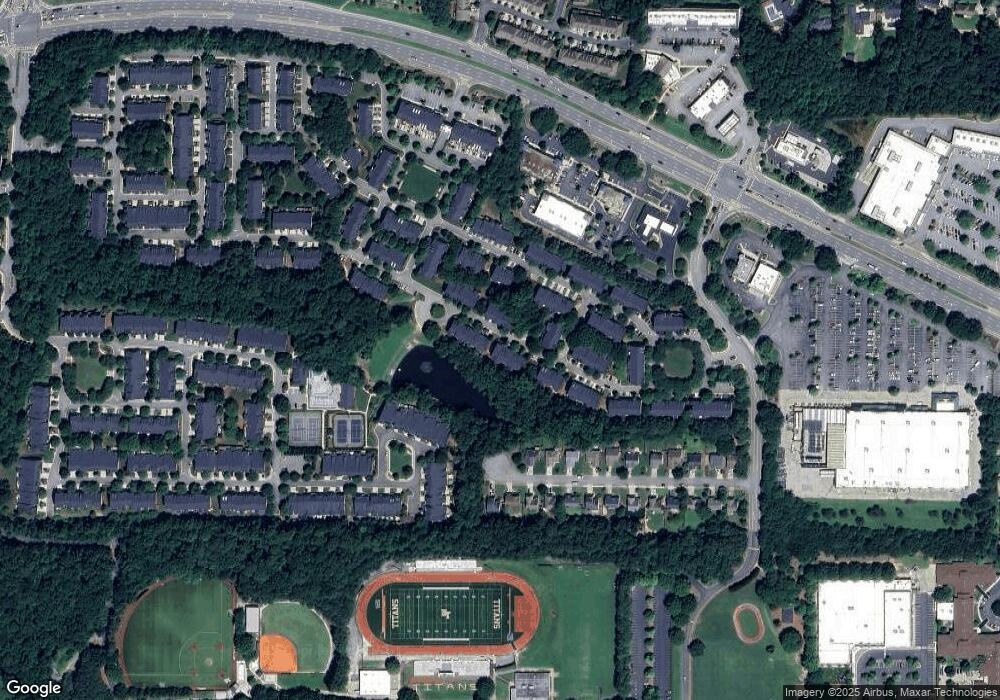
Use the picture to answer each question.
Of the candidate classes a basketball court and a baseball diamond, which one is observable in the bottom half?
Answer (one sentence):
Looking in the bottom half, you will find a baseball diamond.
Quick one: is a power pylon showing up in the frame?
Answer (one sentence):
No, the photo shows no power pylon.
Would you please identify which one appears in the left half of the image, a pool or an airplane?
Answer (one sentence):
What appears in the left half of the image is a pool.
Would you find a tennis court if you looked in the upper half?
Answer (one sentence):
No, no tennis court can be made out in the upper half.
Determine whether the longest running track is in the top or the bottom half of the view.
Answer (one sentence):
It is in the bottom half that the longest running track appears.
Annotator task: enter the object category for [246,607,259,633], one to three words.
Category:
shed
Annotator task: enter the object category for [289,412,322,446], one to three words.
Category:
tennis court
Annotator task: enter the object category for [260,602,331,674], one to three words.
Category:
baseball field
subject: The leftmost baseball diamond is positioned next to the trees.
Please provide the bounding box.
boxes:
[117,574,236,692]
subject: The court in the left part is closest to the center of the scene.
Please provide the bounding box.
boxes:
[335,414,365,447]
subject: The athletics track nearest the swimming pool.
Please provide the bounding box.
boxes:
[357,571,540,655]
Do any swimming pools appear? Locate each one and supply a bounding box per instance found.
[309,370,340,408]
